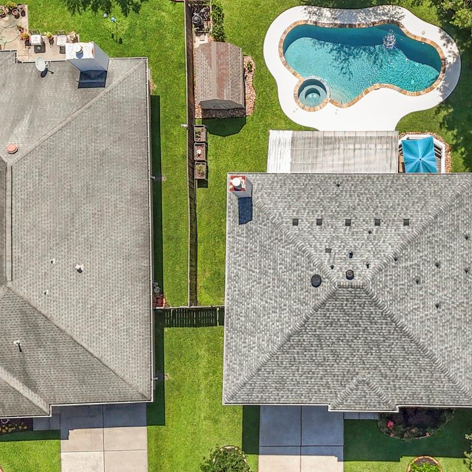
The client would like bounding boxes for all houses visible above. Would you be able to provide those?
[222,172,472,412]
[0,42,157,418]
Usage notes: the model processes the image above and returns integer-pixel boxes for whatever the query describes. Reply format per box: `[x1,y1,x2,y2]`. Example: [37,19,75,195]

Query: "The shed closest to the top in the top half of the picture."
[196,40,247,109]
